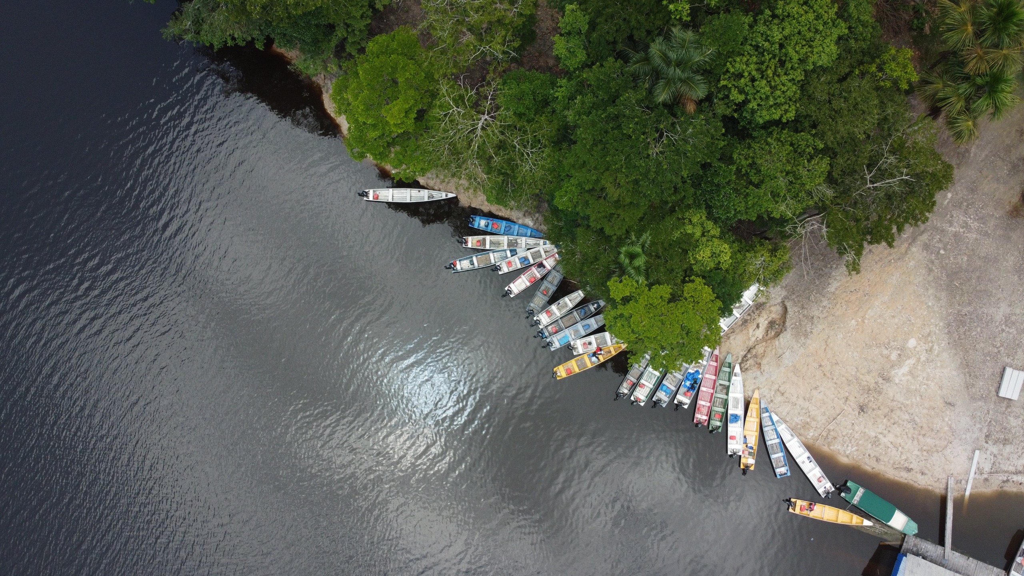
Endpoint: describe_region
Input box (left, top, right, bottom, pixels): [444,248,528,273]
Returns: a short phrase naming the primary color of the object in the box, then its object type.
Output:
white boat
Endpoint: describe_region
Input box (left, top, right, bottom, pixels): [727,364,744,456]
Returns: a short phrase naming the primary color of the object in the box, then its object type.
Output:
white boat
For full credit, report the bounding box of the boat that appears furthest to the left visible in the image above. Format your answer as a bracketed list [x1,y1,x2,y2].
[357,188,457,203]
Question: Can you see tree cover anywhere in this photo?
Yes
